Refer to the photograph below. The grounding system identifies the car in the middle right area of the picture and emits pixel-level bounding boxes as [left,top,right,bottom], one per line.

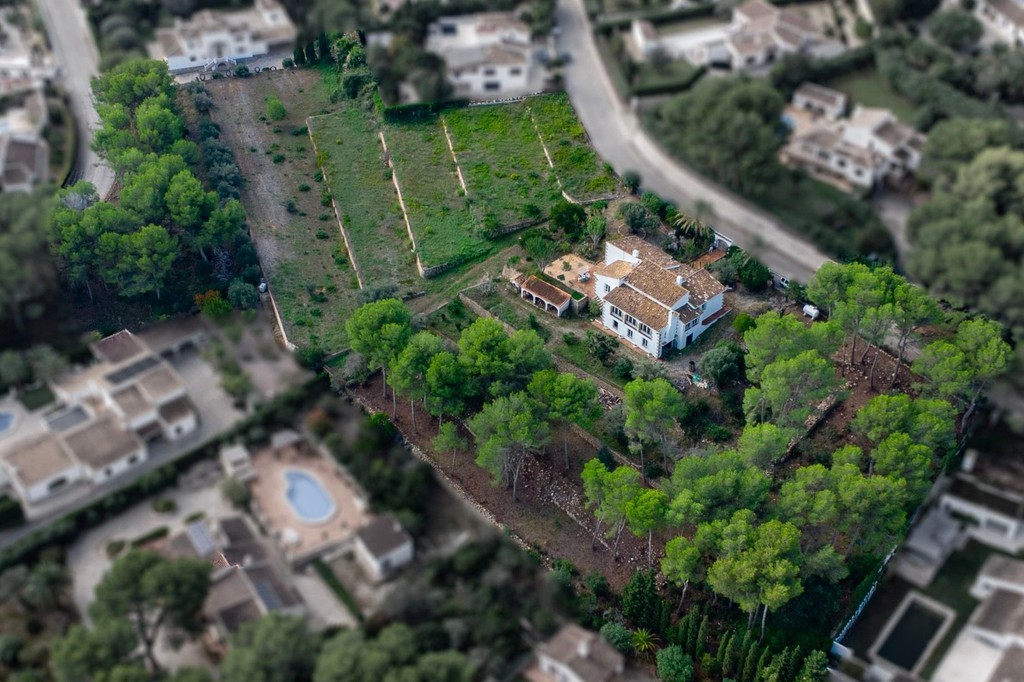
[773,276,796,288]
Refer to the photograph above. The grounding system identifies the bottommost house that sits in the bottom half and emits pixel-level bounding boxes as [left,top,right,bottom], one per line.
[535,624,626,682]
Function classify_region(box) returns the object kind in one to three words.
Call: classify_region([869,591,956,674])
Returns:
swimming pool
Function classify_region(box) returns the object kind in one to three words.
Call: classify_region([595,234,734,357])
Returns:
house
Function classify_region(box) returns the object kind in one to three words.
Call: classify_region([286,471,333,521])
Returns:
swimming pool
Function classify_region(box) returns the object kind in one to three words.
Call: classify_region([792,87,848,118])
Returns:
building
